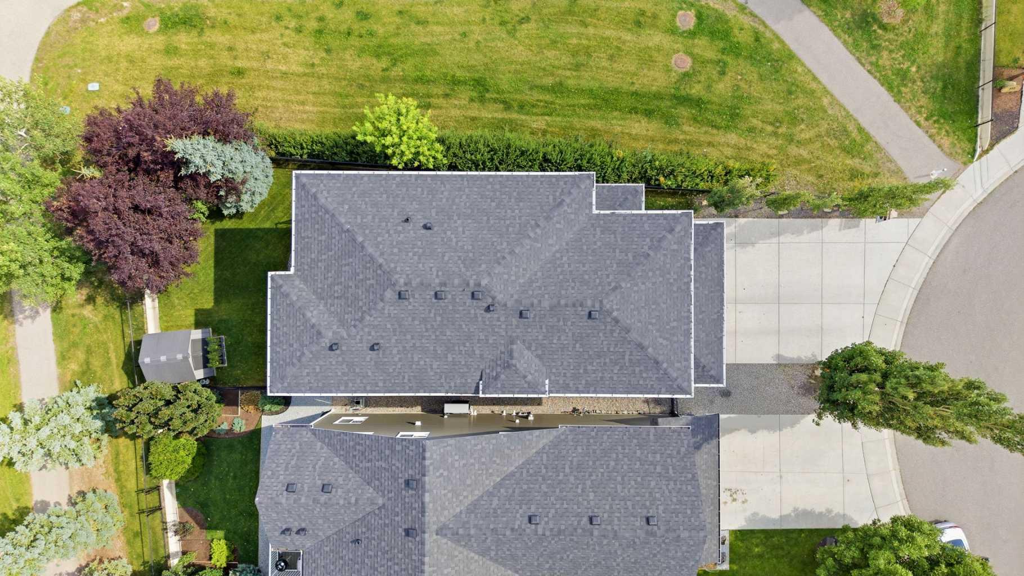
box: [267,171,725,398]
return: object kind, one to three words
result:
house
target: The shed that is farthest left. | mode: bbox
[139,329,218,385]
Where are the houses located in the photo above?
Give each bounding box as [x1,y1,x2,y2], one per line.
[267,171,725,398]
[256,410,720,576]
